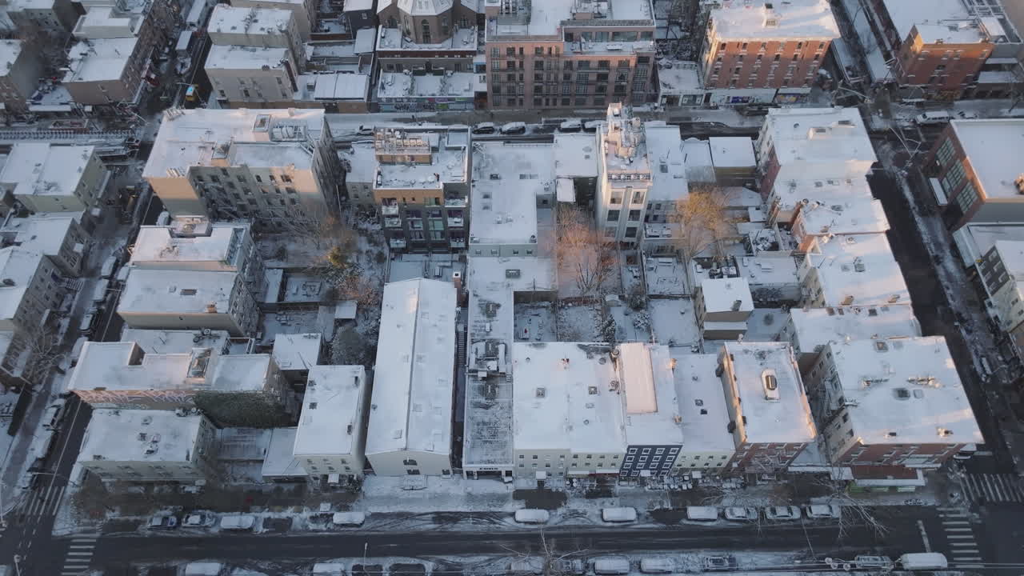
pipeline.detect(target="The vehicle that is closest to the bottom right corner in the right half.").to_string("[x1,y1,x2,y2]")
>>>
[902,552,946,571]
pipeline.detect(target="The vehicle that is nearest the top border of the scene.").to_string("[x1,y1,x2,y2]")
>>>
[185,0,212,35]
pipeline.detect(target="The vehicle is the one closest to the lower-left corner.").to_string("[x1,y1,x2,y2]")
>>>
[33,433,57,465]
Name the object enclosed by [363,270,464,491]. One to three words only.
building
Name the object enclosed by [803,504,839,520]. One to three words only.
car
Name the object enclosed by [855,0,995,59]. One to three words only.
building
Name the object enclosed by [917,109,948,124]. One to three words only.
vehicle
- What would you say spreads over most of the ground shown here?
buildings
